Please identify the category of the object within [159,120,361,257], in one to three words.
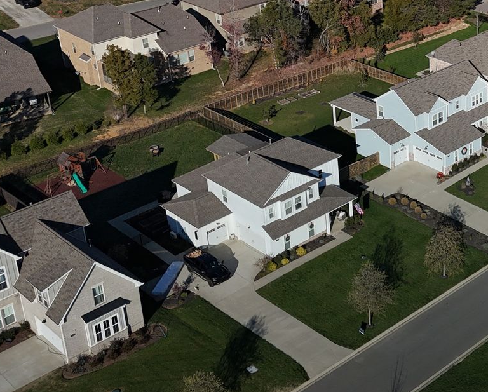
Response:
house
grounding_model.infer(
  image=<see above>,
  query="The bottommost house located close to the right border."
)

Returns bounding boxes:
[330,57,488,173]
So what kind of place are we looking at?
residential area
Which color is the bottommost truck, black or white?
black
